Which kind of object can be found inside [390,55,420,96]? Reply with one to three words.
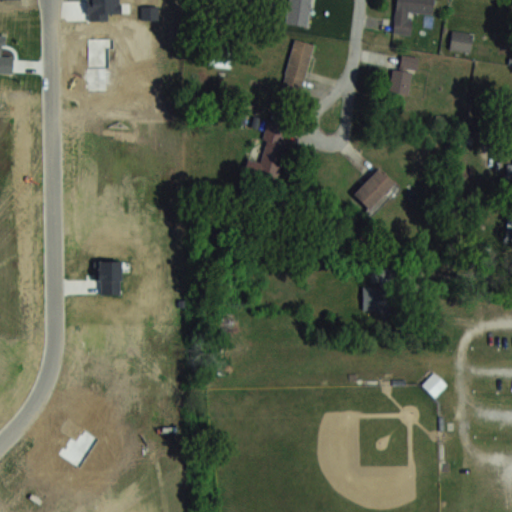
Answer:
house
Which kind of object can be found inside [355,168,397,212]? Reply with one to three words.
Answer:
house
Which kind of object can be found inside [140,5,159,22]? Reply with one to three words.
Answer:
building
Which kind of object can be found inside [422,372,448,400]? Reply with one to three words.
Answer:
building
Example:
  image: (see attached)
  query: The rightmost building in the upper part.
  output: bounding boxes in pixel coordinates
[450,31,474,54]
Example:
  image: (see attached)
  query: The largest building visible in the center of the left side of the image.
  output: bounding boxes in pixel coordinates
[98,262,122,296]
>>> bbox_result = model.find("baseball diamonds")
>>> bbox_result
[210,383,445,512]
